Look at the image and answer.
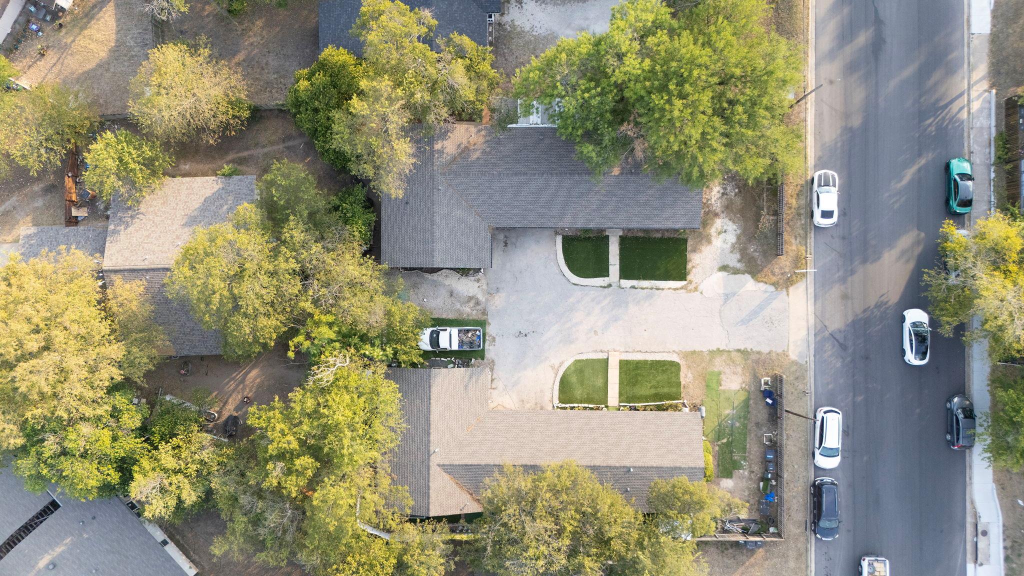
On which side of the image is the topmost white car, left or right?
right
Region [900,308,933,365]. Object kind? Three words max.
car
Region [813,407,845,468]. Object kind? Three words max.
car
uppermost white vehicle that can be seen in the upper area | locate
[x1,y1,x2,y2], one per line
[811,169,842,227]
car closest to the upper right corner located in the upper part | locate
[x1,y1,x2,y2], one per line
[943,157,976,214]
